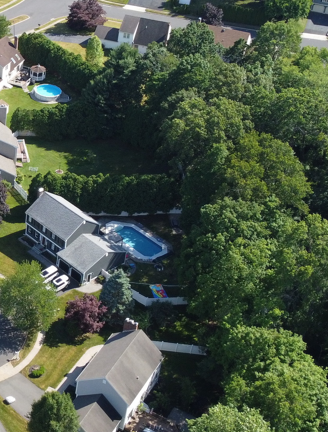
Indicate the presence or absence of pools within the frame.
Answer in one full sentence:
Yes, a pool is visible in the scene.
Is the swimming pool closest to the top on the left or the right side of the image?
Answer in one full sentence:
The swimming pool closest to the top is on the left side of the image.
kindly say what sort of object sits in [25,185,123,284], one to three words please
house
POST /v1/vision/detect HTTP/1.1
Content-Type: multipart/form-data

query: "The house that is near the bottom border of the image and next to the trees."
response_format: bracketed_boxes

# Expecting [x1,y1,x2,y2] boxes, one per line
[75,317,167,432]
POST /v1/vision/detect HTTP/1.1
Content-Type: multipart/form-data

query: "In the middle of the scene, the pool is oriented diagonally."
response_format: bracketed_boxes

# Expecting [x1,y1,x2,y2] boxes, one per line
[105,221,167,261]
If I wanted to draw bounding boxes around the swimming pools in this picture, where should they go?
[30,83,75,104]
[105,221,167,261]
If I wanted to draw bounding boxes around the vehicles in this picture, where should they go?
[46,263,59,282]
[50,273,71,292]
